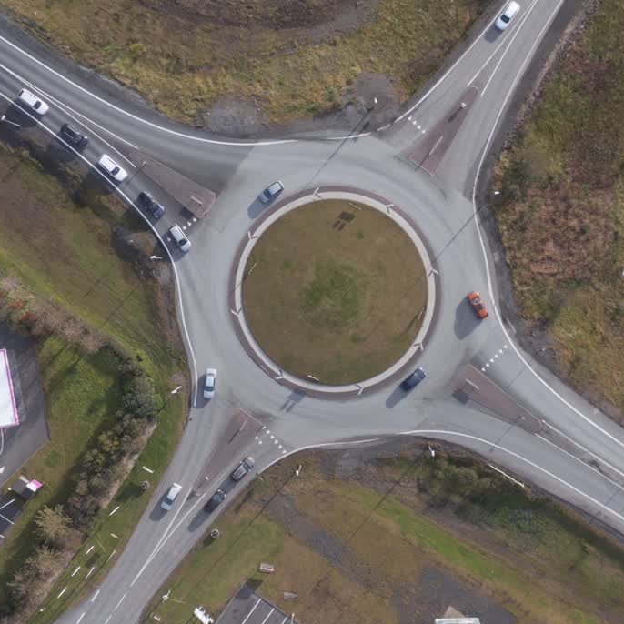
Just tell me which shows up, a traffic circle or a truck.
traffic circle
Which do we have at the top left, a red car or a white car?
white car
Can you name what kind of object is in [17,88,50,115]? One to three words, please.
car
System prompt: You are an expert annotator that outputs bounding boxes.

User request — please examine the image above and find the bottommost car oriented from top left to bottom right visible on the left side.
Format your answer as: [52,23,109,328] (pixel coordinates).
[168,223,193,252]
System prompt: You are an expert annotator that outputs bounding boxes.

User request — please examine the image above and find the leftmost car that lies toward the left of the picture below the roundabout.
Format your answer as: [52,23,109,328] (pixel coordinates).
[161,480,184,510]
